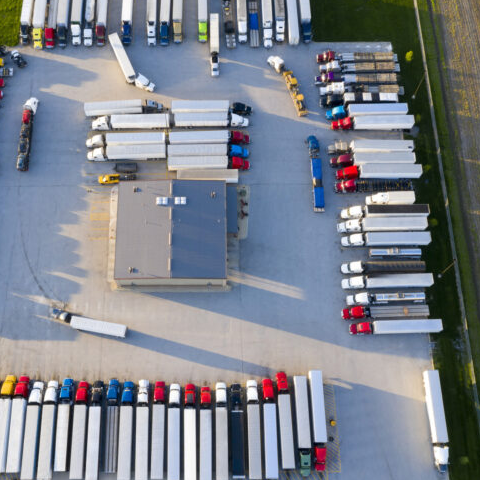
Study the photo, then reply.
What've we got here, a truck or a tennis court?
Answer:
truck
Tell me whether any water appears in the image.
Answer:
No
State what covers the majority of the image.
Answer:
paved ground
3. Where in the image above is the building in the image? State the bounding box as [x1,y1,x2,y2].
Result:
[114,177,238,282]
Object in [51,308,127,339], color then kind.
white truck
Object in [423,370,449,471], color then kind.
white truck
